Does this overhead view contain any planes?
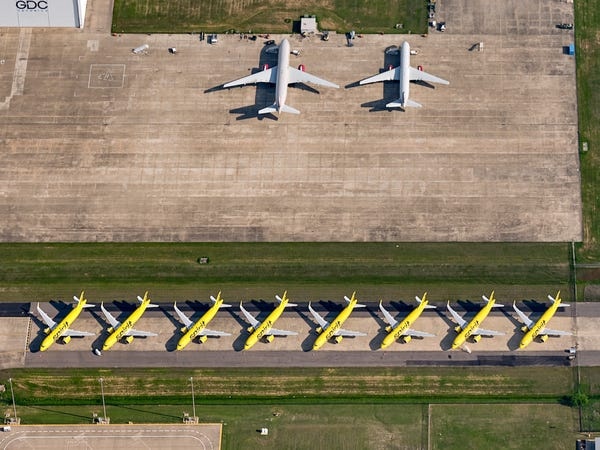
Yes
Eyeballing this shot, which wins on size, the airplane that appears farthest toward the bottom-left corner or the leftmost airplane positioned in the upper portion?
the leftmost airplane positioned in the upper portion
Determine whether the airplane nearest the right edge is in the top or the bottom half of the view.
bottom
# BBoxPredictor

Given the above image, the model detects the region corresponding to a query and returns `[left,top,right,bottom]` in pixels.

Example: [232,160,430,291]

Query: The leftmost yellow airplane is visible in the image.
[38,292,96,350]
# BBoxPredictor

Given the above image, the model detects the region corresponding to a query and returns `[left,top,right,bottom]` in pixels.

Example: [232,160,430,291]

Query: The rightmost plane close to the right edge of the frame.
[513,291,575,349]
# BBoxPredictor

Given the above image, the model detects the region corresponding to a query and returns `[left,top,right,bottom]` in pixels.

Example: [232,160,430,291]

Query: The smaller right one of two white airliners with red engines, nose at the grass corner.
[359,41,450,110]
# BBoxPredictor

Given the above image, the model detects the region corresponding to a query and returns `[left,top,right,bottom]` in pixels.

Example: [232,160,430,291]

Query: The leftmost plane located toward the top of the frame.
[223,37,339,117]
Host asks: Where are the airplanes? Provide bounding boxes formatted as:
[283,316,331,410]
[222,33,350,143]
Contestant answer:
[309,292,369,350]
[240,291,300,349]
[446,291,507,349]
[38,292,96,350]
[359,41,450,110]
[223,37,339,117]
[101,292,159,349]
[379,292,437,349]
[513,291,575,349]
[174,292,233,350]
